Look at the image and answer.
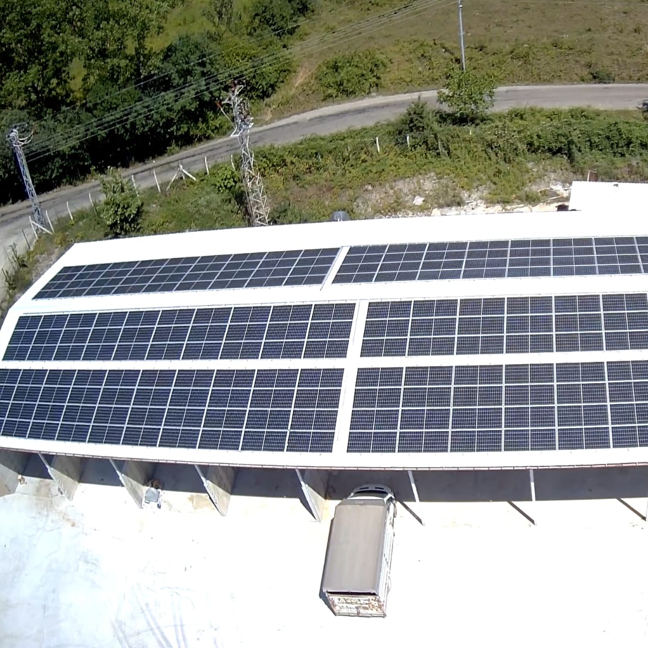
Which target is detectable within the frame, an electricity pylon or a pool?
electricity pylon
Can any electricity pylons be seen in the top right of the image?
No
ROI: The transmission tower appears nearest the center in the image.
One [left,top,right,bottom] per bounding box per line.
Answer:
[210,82,272,228]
